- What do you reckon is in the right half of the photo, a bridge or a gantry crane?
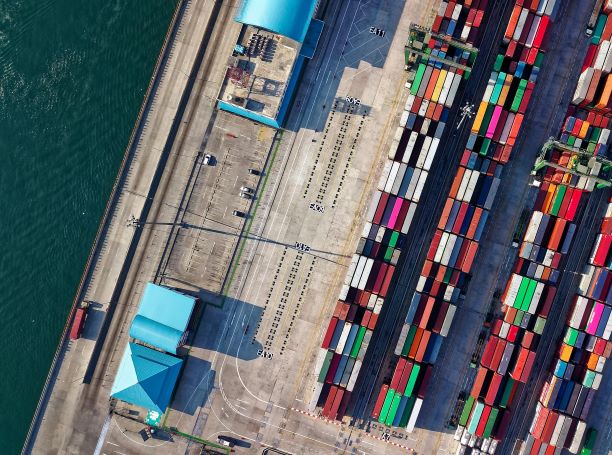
gantry crane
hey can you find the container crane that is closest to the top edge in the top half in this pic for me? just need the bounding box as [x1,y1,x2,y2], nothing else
[402,19,481,92]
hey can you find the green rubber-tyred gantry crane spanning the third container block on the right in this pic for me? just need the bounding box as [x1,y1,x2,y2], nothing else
[528,132,612,195]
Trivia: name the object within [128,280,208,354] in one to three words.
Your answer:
building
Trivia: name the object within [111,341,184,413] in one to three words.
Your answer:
building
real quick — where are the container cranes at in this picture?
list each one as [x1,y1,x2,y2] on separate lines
[528,132,612,195]
[402,19,481,92]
